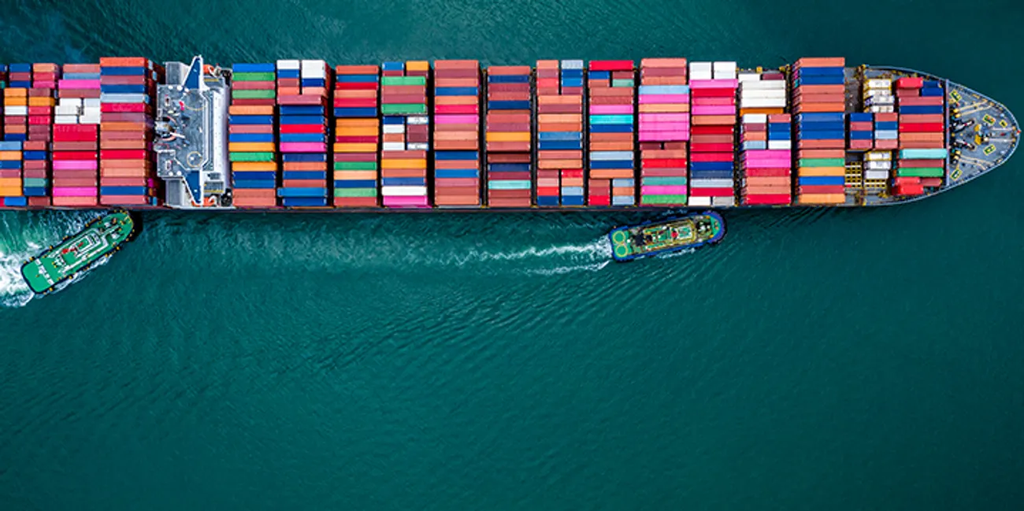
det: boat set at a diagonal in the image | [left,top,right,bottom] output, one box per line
[21,211,137,293]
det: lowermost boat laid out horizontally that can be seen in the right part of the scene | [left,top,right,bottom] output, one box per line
[608,212,729,263]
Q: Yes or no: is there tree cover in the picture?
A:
No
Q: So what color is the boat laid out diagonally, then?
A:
green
